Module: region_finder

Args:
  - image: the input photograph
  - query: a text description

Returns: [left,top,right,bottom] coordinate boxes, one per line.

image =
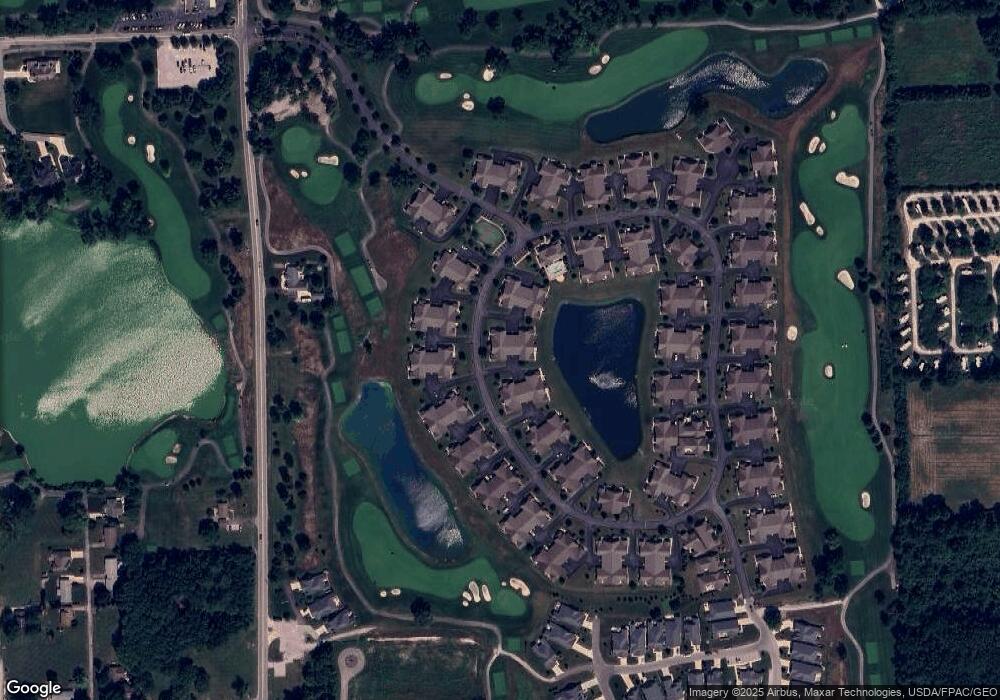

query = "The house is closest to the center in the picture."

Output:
[488,328,538,360]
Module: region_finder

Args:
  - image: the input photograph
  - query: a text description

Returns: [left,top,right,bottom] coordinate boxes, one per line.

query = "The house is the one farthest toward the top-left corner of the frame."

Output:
[27,61,56,78]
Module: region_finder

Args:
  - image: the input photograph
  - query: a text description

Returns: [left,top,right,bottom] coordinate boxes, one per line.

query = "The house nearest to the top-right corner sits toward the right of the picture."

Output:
[752,143,776,177]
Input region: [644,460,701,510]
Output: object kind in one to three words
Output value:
house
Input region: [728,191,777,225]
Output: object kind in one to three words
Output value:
house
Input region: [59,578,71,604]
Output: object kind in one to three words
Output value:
barn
